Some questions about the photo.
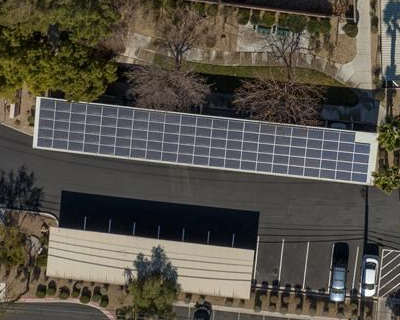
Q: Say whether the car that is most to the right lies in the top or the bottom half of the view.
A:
bottom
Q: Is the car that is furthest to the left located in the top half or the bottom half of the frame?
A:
bottom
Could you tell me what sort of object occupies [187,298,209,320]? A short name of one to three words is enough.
car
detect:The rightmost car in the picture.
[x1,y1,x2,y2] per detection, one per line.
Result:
[359,248,380,294]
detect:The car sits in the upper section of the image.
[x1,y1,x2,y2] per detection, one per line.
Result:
[328,110,349,129]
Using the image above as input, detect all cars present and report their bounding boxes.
[359,248,380,294]
[187,298,209,320]
[327,248,348,295]
[328,110,349,129]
